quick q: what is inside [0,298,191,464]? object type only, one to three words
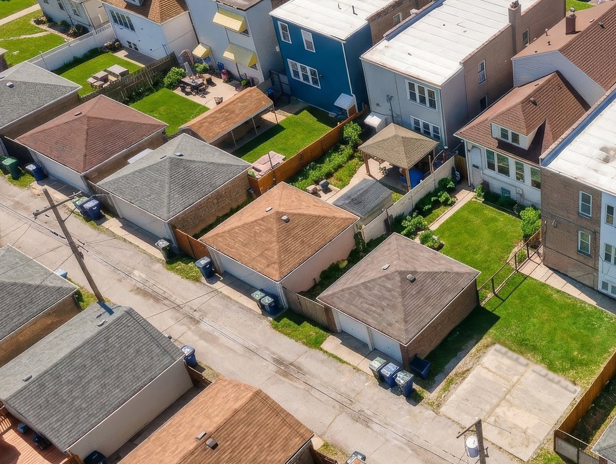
building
